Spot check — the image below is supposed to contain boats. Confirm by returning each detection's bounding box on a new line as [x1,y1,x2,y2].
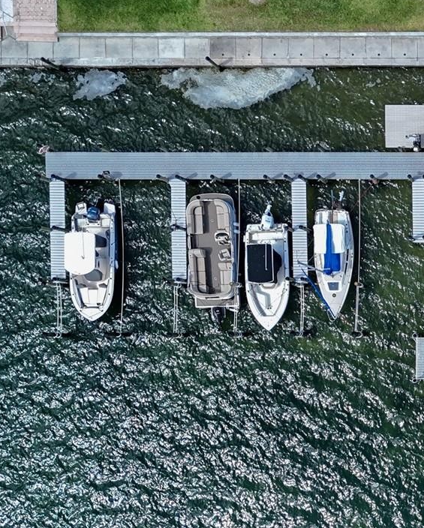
[292,190,354,321]
[186,193,240,324]
[242,206,290,331]
[64,201,121,322]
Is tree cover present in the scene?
No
